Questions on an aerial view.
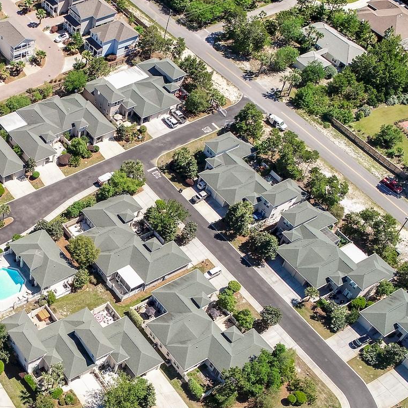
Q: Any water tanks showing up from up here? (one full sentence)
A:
No, there appears to be no water tank in this shot.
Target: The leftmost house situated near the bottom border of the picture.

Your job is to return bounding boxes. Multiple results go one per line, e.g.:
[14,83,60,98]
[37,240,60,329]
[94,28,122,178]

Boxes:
[0,299,165,400]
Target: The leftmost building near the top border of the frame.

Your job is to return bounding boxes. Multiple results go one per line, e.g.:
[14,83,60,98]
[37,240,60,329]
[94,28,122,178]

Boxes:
[0,13,36,64]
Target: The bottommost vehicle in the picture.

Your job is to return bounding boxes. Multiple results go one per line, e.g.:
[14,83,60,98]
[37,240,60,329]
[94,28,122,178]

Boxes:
[348,333,372,349]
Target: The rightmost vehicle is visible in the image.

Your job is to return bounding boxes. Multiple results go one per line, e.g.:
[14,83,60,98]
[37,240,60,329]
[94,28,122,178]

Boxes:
[378,179,404,194]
